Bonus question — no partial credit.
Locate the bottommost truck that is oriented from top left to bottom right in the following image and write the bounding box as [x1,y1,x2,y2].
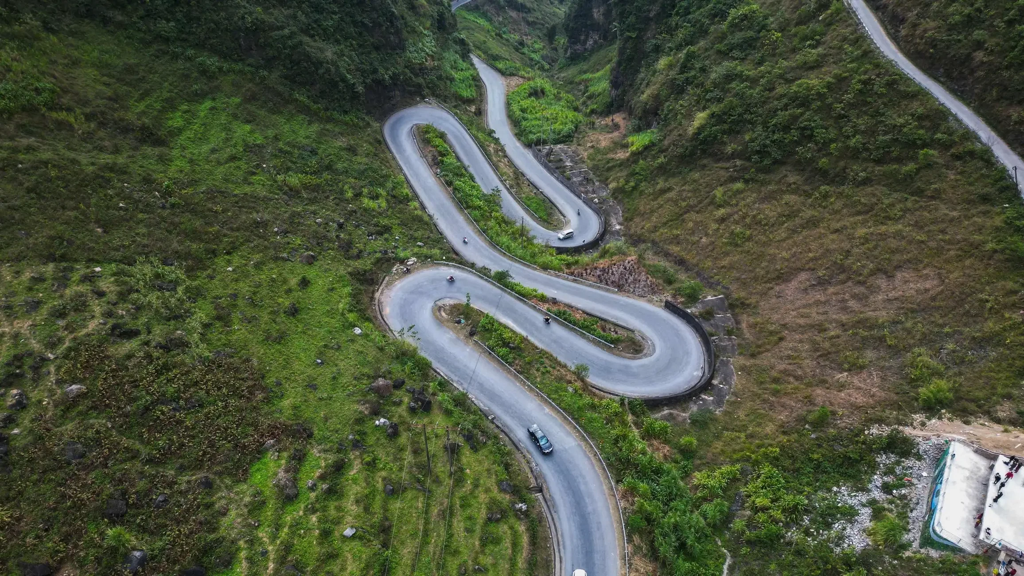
[527,424,554,454]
